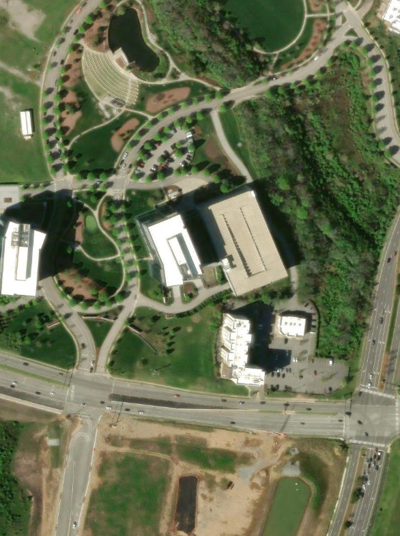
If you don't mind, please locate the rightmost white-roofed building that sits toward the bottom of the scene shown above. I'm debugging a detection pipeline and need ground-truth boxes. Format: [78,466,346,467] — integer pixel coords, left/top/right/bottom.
[277,316,306,335]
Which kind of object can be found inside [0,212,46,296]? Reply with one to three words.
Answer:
building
